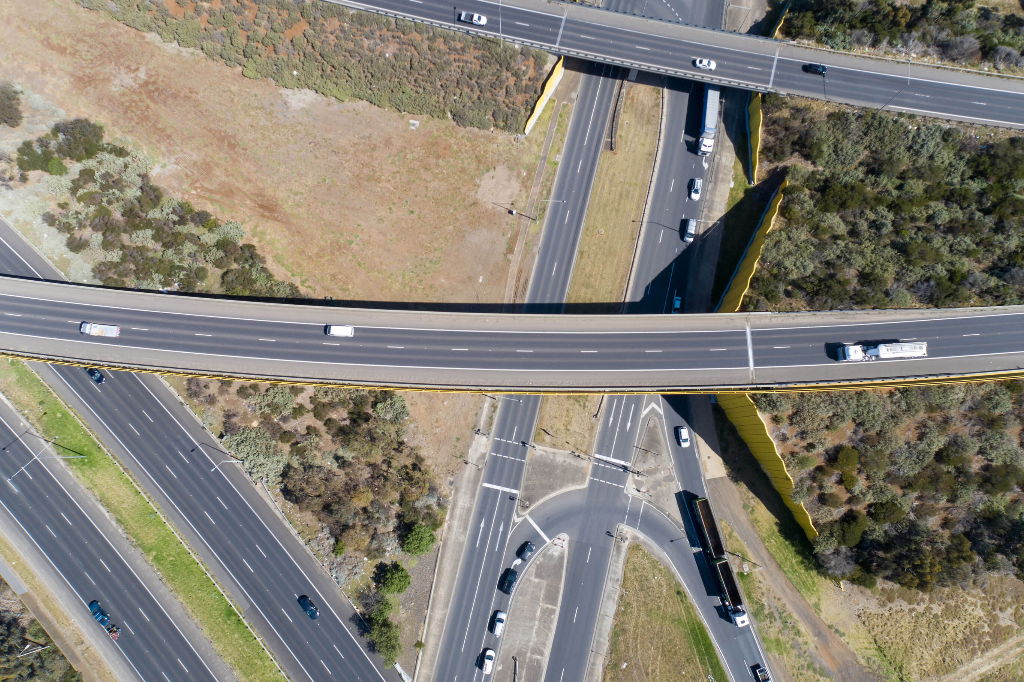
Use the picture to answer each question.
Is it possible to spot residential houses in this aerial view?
No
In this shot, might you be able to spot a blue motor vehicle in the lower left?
Yes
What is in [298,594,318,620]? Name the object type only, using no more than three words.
car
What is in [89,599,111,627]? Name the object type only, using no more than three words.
truck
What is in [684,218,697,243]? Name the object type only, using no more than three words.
vehicle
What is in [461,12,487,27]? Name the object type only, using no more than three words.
vehicle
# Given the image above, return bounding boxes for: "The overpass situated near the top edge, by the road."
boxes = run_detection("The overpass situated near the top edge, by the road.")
[556,0,781,96]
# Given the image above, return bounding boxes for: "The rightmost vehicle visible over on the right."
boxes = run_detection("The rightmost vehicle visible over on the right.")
[835,343,929,362]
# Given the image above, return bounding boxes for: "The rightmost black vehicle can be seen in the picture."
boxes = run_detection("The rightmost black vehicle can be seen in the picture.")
[806,63,828,75]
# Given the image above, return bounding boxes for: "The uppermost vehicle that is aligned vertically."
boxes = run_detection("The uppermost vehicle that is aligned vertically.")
[697,86,719,157]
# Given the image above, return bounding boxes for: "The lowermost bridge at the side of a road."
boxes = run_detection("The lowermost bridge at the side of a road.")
[0,277,759,396]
